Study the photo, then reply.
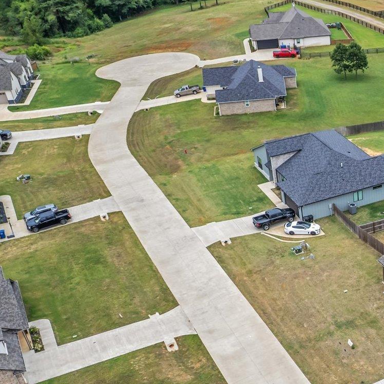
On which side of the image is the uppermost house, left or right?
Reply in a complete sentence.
It is on the right.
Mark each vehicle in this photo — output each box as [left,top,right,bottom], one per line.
[167,81,202,98]
[0,127,15,139]
[18,206,73,232]
[18,197,60,220]
[249,205,300,230]
[269,45,301,57]
[281,219,323,234]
